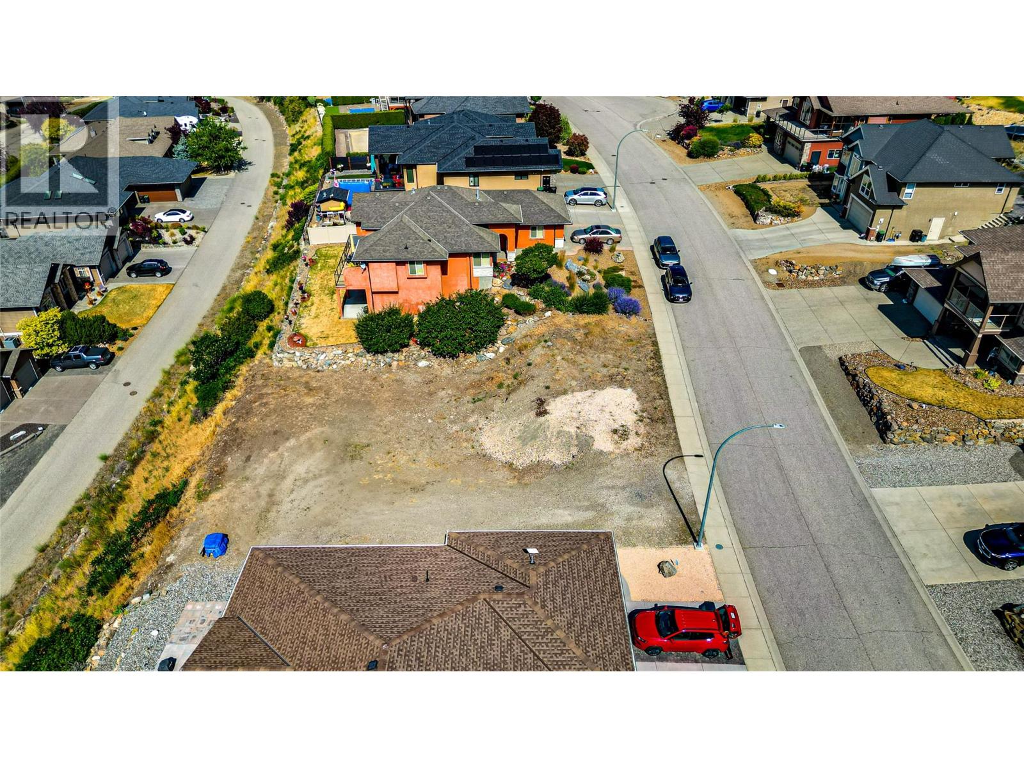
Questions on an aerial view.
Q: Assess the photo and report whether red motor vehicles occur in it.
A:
Yes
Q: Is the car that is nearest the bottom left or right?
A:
right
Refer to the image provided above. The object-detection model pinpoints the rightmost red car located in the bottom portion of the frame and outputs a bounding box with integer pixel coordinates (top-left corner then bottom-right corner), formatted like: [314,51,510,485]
[631,603,750,658]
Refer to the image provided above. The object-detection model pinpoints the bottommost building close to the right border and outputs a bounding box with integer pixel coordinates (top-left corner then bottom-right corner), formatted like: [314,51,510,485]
[900,231,1024,389]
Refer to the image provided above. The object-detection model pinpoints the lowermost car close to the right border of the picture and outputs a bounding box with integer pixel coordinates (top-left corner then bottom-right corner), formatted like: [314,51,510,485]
[978,524,1024,567]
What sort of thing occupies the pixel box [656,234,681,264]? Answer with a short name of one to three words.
car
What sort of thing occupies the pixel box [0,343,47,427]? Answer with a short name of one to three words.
house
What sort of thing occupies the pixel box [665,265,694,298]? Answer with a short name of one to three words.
car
